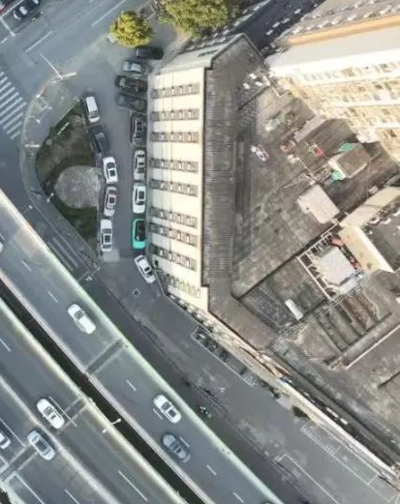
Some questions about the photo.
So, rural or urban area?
urban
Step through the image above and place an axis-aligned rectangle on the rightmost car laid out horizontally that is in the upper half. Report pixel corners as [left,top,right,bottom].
[133,45,164,59]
